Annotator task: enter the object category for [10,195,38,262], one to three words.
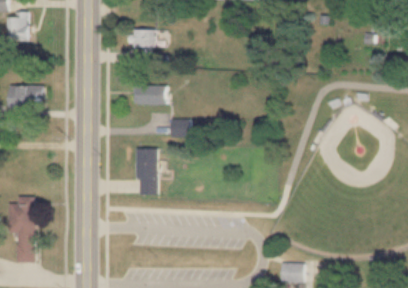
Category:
house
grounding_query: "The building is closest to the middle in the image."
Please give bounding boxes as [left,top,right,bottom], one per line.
[170,118,192,137]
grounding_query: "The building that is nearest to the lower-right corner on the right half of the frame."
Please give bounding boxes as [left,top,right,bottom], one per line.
[281,262,306,284]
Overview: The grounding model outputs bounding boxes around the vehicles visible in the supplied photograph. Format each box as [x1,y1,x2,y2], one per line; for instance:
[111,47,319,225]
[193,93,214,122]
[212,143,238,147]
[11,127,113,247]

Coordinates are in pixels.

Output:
[157,128,171,133]
[77,262,82,274]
